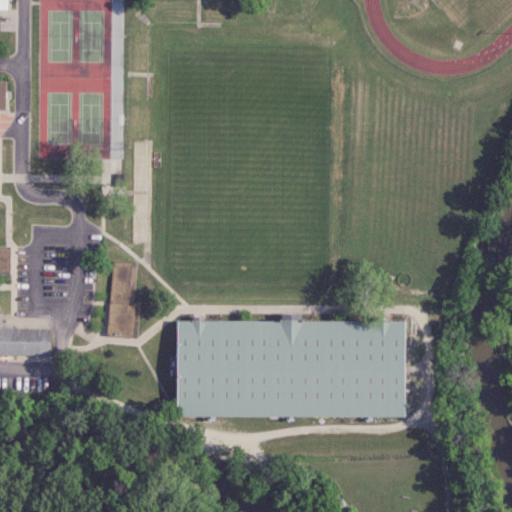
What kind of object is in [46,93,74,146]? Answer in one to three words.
tennis court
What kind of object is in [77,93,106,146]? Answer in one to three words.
tennis court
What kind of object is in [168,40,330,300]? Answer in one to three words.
sports field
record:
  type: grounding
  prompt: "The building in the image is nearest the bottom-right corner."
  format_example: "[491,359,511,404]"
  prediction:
[178,315,406,422]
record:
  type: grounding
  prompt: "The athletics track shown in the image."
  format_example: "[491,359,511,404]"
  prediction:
[364,0,512,76]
